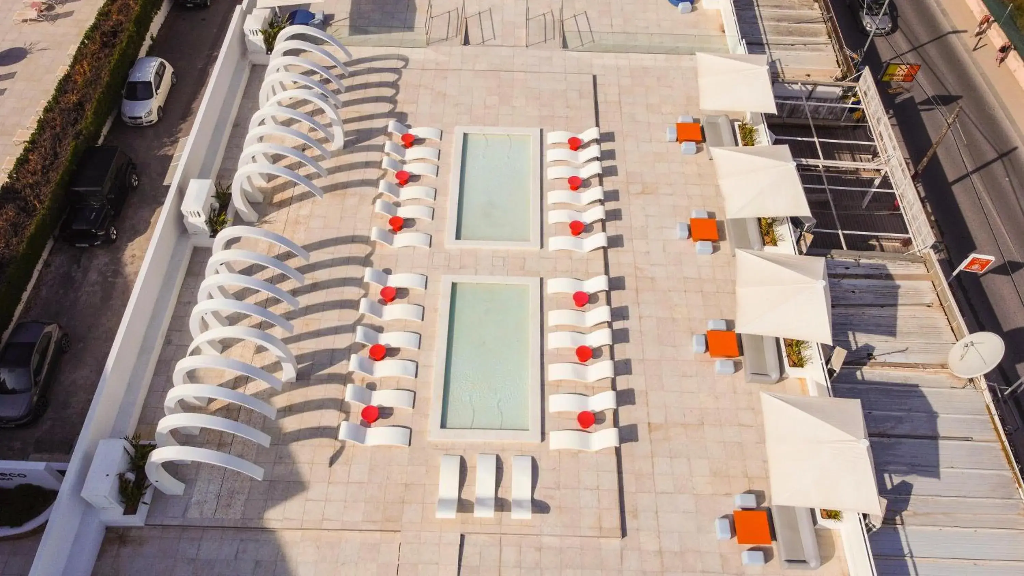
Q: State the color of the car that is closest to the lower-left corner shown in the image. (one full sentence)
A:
In this view, the car that is closest to the lower-left corner is black.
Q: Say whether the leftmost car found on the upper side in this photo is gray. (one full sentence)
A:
No, from above the leftmost car found on the upper side looks black.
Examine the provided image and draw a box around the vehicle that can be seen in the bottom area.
[0,318,72,433]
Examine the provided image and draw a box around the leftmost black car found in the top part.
[58,151,138,253]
